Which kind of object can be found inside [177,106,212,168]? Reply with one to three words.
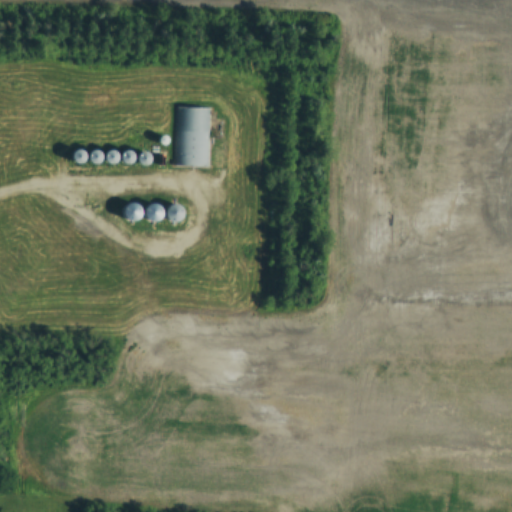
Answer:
barn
